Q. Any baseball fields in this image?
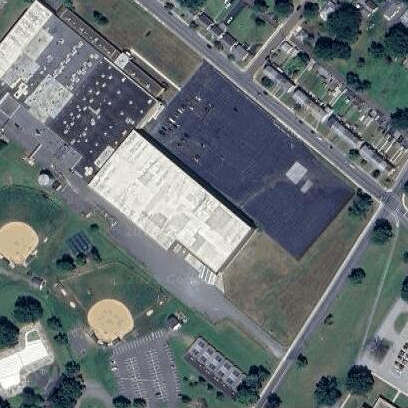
Yes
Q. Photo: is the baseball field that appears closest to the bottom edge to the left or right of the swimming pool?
on its right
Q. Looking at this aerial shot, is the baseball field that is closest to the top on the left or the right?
left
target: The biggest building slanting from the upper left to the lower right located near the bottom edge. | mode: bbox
[187,337,248,390]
